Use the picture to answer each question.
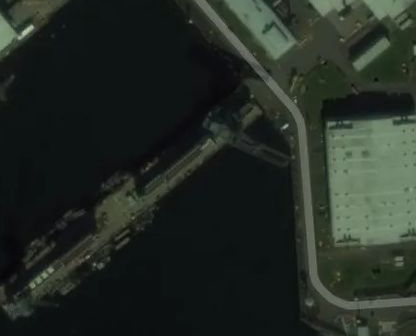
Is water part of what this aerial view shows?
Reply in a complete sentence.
Yes, water can be seen from above here.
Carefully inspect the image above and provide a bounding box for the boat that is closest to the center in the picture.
[139,158,158,173]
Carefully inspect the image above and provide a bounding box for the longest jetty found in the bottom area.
[10,135,241,317]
